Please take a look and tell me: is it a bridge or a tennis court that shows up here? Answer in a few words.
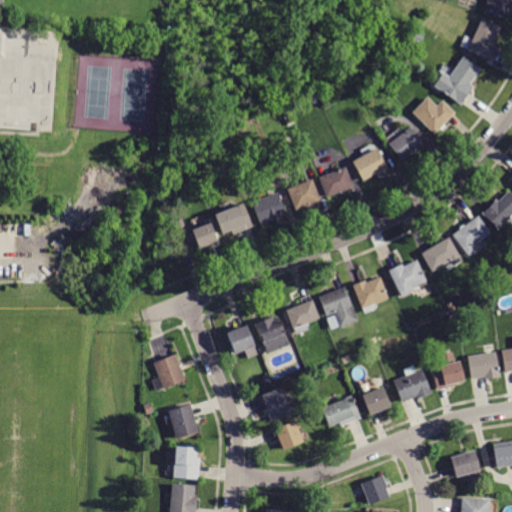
tennis court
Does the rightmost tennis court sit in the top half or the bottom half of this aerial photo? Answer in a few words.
top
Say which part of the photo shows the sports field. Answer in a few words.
bottom left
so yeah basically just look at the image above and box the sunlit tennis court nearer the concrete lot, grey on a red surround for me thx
[74,56,118,130]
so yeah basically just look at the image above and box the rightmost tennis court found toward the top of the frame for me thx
[114,58,156,132]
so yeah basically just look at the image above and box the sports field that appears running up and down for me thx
[0,309,86,512]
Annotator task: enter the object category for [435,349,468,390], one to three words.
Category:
house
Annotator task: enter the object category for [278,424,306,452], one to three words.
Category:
house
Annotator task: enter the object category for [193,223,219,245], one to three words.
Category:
building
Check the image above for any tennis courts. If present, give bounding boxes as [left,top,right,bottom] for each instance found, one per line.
[74,56,118,130]
[114,58,156,132]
